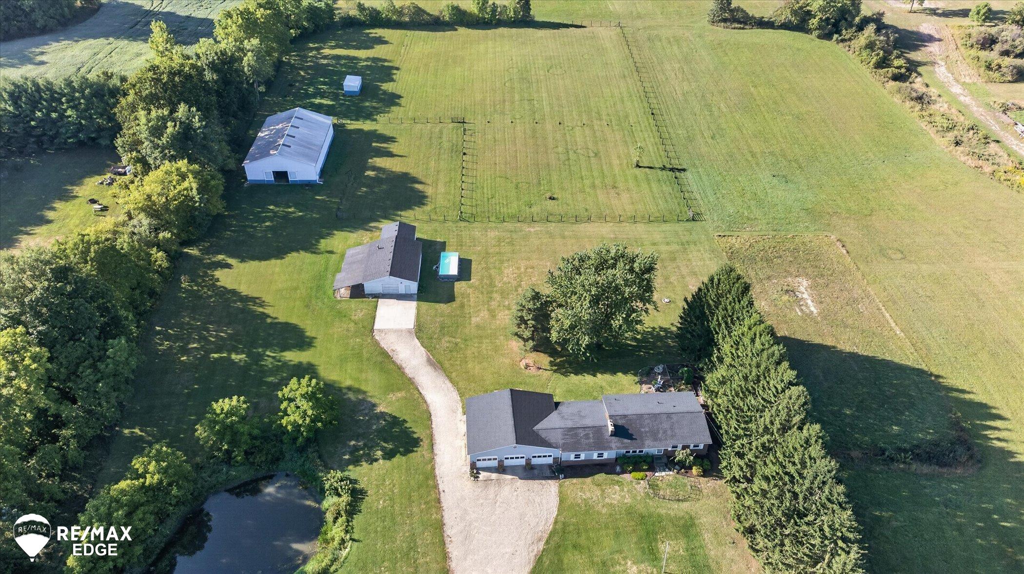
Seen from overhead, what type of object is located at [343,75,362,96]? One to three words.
shed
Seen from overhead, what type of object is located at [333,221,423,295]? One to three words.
building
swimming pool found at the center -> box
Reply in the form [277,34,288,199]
[437,252,462,282]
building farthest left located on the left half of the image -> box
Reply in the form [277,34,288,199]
[242,107,333,185]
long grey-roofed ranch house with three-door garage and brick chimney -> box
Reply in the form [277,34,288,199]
[465,388,714,469]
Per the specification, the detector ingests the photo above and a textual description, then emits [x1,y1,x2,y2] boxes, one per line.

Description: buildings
[343,75,362,96]
[242,107,333,185]
[333,221,423,295]
[465,388,714,469]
